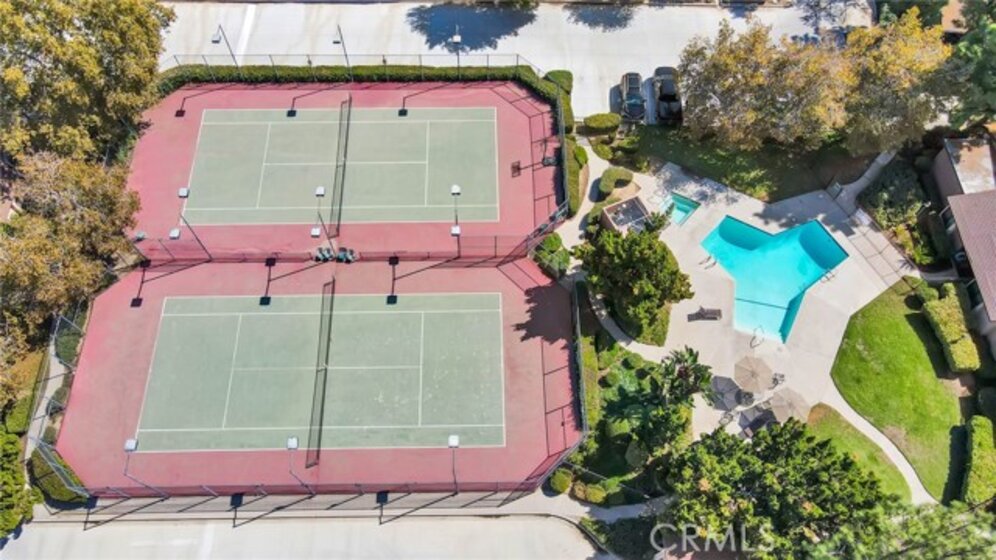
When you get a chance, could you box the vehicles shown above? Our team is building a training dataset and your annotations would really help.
[656,68,689,124]
[619,71,649,122]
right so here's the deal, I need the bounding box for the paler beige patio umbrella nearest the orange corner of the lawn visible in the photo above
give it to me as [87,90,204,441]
[767,384,811,427]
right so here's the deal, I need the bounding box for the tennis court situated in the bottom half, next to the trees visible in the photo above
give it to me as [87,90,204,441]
[56,256,581,497]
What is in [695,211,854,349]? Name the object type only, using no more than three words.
swimming pool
